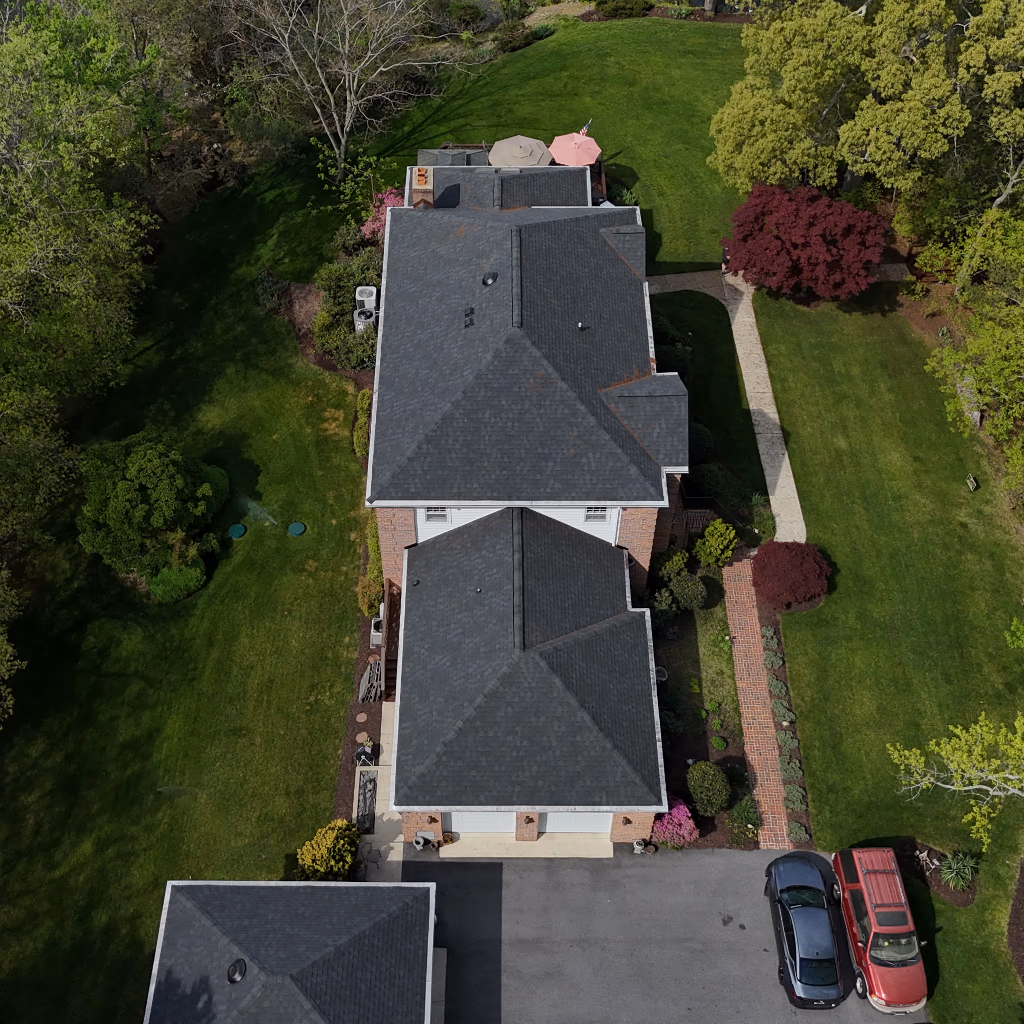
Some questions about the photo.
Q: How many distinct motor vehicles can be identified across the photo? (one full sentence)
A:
My tally gives 2 motor vehicles in this view.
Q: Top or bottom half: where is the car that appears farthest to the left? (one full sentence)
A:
It is in the bottom half that the car that appears farthest to the left appears.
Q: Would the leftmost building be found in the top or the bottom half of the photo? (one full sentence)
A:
It is in the bottom half that the leftmost building appears.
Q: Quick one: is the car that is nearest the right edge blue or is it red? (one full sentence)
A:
In this view, the car that is nearest the right edge is red.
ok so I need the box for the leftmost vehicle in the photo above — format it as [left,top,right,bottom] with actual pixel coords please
[766,860,846,1007]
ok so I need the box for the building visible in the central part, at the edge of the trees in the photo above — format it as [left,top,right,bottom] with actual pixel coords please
[365,163,744,841]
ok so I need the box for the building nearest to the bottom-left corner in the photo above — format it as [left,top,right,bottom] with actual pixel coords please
[144,882,440,1024]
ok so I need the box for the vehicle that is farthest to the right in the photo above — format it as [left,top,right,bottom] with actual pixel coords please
[836,848,929,1014]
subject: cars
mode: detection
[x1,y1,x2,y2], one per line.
[836,848,929,1014]
[766,860,846,1007]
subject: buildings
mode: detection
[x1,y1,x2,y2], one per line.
[144,882,440,1024]
[365,163,744,841]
